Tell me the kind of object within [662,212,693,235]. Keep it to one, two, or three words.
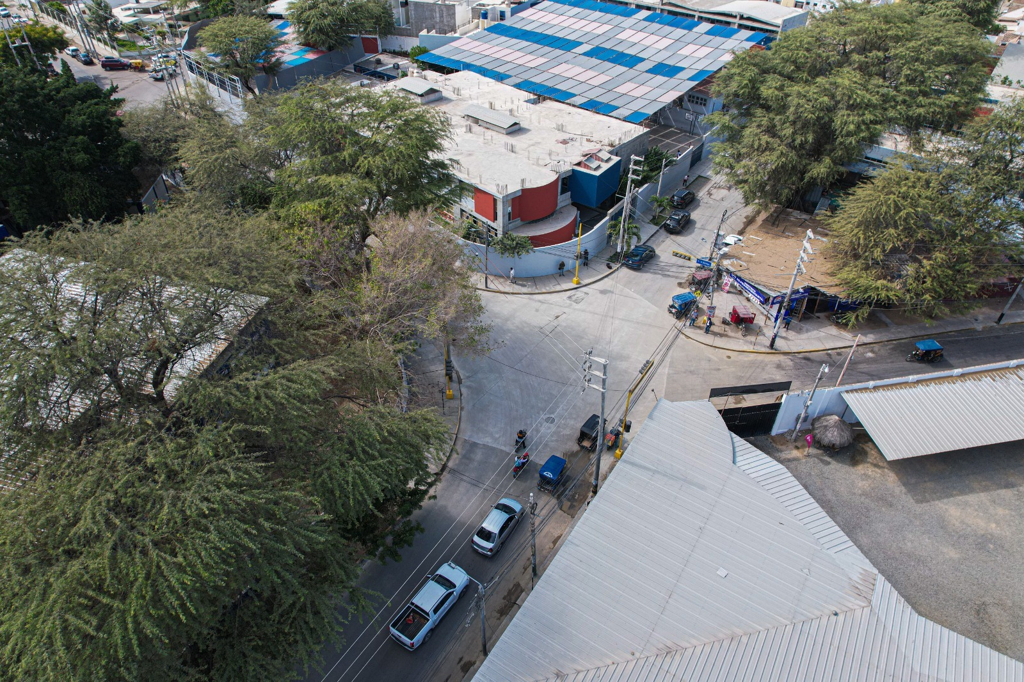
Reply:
car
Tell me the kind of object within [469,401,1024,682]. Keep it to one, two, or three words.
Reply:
shed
